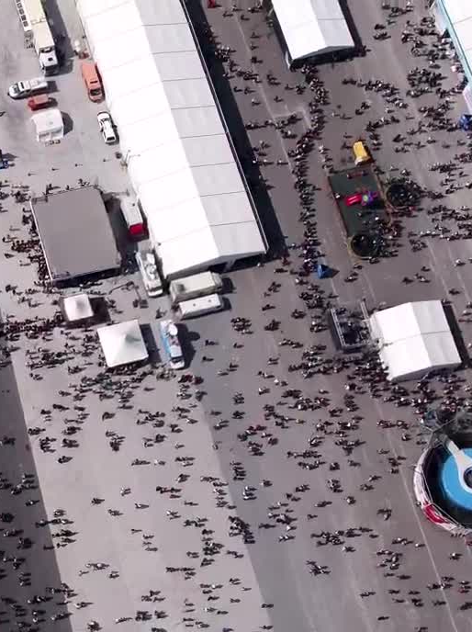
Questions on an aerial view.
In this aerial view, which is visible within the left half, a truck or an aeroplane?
truck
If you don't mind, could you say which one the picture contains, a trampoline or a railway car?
trampoline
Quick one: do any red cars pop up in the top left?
Yes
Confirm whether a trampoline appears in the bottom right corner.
No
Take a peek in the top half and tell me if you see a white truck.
Yes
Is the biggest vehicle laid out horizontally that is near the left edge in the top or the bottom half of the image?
top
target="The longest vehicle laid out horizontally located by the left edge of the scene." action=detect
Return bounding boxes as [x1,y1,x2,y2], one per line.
[10,80,48,100]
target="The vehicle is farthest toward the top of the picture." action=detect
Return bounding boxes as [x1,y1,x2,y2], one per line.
[13,0,60,80]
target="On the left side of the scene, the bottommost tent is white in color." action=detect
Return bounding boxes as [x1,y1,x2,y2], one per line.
[95,321,148,372]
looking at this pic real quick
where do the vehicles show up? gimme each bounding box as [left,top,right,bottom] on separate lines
[177,295,222,321]
[121,195,145,239]
[83,64,105,105]
[10,80,48,100]
[99,115,116,145]
[139,251,165,298]
[156,321,185,372]
[28,94,52,111]
[13,0,60,80]
[170,272,222,299]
